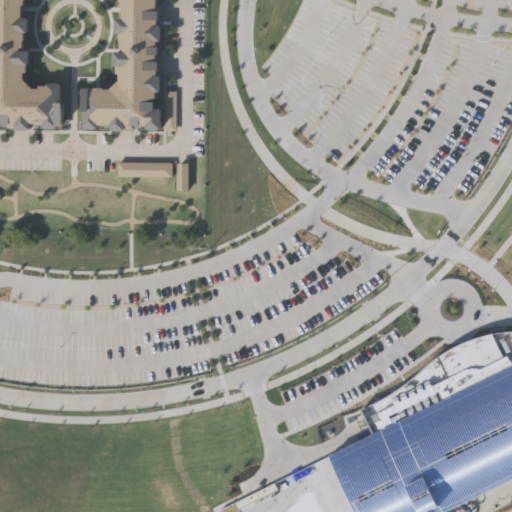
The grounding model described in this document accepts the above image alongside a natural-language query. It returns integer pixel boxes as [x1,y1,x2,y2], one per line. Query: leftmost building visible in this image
[0,0,60,128]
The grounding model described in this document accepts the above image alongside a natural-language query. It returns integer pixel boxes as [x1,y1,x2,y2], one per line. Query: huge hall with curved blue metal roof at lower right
[330,333,512,512]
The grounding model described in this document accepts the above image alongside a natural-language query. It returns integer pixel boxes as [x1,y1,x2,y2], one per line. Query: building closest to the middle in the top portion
[176,164,188,191]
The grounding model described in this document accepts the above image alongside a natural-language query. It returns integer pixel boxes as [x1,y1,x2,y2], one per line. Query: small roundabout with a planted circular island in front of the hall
[422,278,482,340]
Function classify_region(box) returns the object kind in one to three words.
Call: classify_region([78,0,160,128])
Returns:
building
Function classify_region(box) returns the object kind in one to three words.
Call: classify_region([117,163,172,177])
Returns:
building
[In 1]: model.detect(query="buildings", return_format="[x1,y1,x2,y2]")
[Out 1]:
[176,164,188,191]
[78,0,160,128]
[0,0,60,128]
[330,333,512,512]
[164,92,177,130]
[117,163,172,177]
